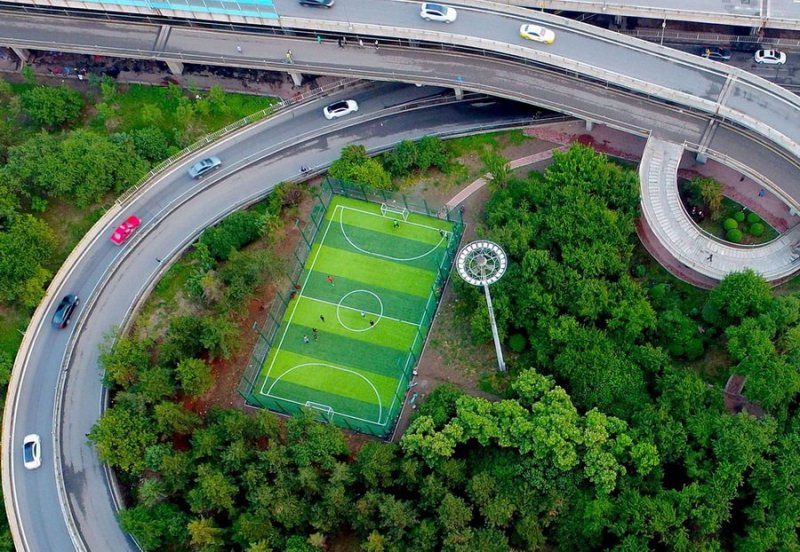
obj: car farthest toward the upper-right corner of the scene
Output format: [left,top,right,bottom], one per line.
[755,49,786,66]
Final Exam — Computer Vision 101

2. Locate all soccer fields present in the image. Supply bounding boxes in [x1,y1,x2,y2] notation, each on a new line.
[245,191,466,443]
